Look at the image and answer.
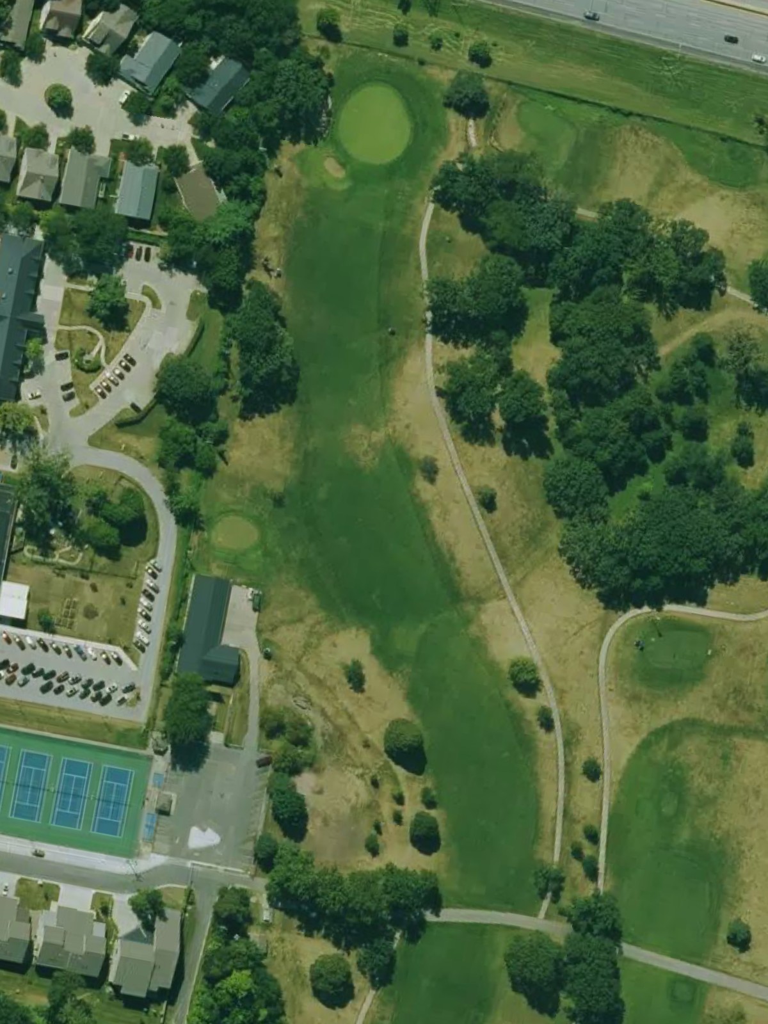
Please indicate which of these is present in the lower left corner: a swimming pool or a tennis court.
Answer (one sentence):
The one visible in the lower left corner is a tennis court.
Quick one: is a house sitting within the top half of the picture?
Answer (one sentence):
Yes, I can see a house within the top half of the picture.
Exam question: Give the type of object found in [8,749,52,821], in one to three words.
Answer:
tennis court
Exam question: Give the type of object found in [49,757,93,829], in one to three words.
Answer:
tennis court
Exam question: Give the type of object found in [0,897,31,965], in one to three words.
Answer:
house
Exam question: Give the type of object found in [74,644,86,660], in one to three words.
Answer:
vehicle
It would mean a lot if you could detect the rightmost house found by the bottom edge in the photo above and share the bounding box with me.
[113,910,181,997]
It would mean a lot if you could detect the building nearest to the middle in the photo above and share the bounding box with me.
[176,574,239,687]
